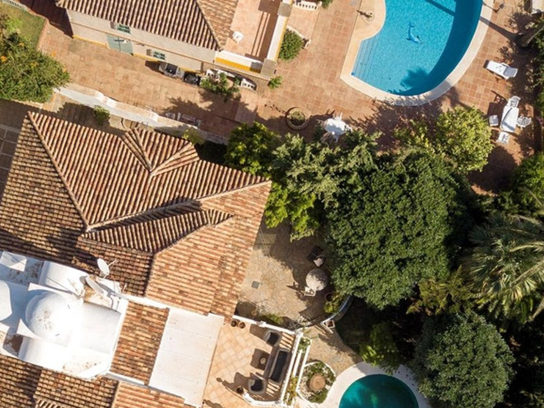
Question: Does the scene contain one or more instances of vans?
No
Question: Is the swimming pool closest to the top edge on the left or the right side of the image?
right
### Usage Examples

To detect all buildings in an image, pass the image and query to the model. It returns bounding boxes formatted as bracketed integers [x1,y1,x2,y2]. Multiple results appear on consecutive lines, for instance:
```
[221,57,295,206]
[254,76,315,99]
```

[0,111,273,408]
[54,0,303,93]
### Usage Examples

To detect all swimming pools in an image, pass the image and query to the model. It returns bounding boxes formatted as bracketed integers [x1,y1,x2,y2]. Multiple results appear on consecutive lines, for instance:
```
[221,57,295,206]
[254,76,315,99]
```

[352,0,487,94]
[338,374,419,408]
